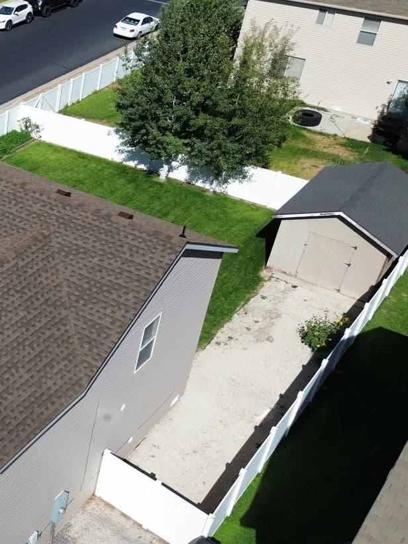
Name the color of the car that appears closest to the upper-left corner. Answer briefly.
white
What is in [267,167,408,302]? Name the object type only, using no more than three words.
shed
